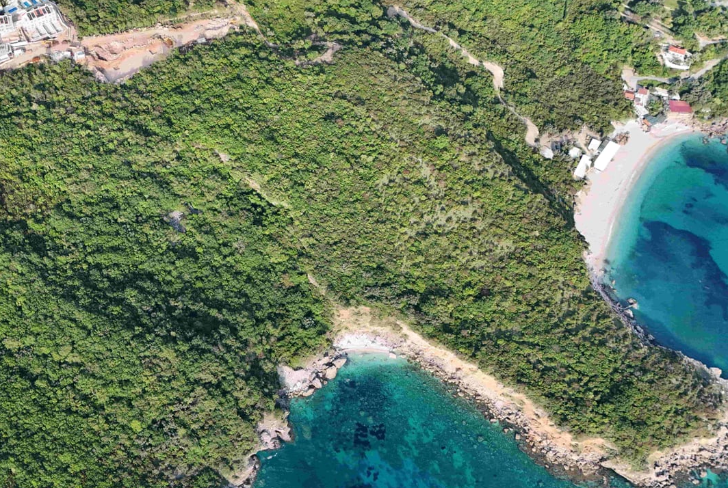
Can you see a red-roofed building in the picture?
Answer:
Yes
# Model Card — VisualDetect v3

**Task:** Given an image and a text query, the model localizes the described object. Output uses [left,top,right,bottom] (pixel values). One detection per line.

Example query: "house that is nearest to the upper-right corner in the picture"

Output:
[668,46,694,63]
